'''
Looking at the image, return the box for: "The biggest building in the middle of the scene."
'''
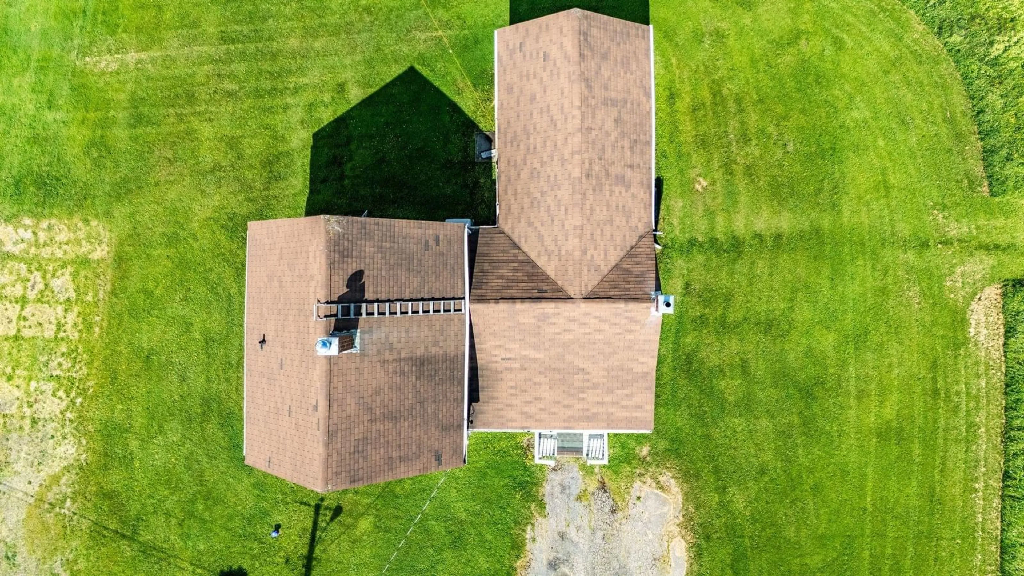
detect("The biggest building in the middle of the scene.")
[244,7,675,493]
